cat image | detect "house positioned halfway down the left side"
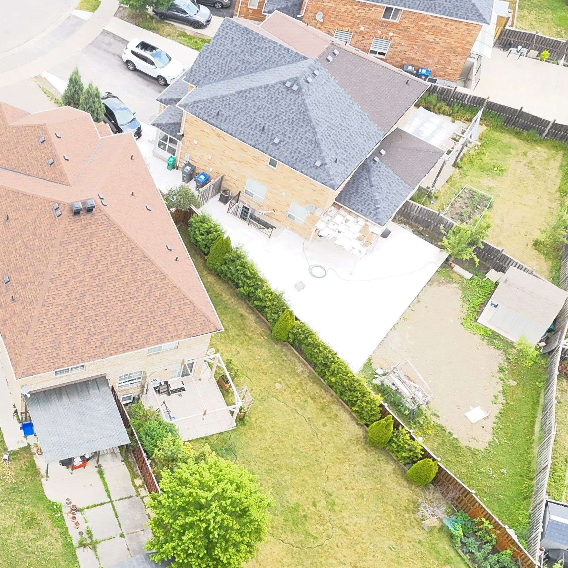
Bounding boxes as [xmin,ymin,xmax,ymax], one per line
[0,102,225,422]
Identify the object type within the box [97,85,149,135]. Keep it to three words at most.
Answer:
car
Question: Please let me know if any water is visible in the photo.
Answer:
No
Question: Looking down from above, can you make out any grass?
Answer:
Yes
